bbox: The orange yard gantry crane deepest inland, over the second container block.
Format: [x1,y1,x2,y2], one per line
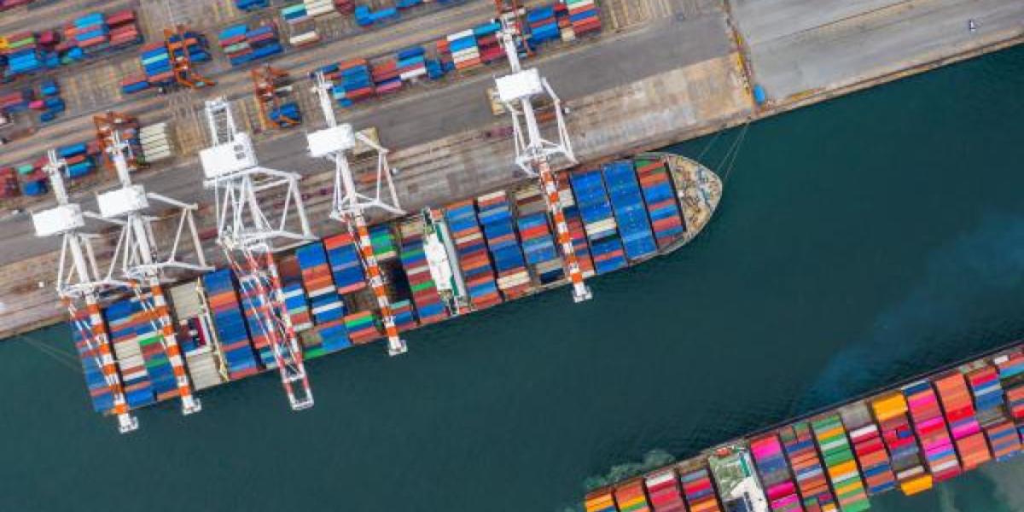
[157,19,219,91]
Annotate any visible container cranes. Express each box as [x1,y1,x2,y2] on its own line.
[157,19,219,91]
[96,133,225,415]
[198,98,328,410]
[496,0,545,63]
[256,61,314,131]
[97,107,161,175]
[34,151,167,433]
[490,20,591,302]
[303,74,416,356]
